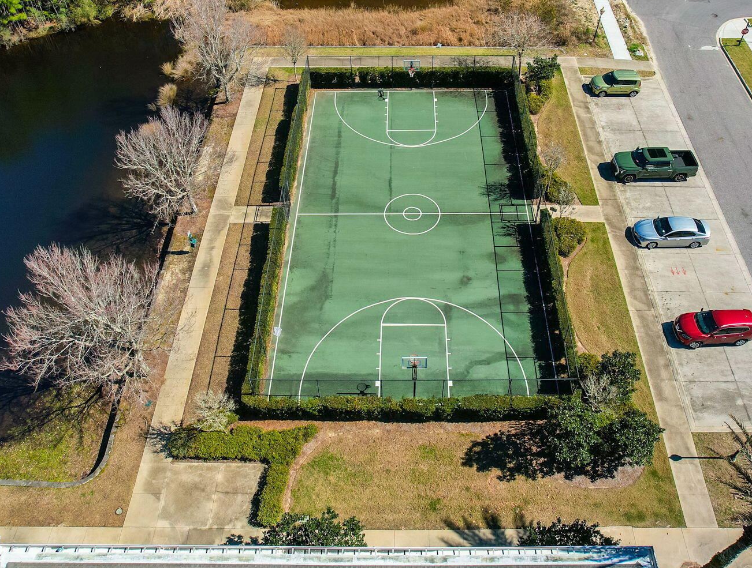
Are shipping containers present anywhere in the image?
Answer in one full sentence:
No, there appears to be no shipping container in this shot.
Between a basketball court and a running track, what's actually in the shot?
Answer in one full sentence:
It is a basketball court that can be seen here.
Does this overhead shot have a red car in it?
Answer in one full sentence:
Yes, the picture does show a red car.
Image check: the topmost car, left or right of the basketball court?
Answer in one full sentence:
It is on the right side of the basketball court that the topmost car is positioned.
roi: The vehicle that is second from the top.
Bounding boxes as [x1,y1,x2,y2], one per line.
[612,150,703,187]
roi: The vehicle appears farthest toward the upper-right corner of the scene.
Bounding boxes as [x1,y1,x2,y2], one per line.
[590,71,644,98]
